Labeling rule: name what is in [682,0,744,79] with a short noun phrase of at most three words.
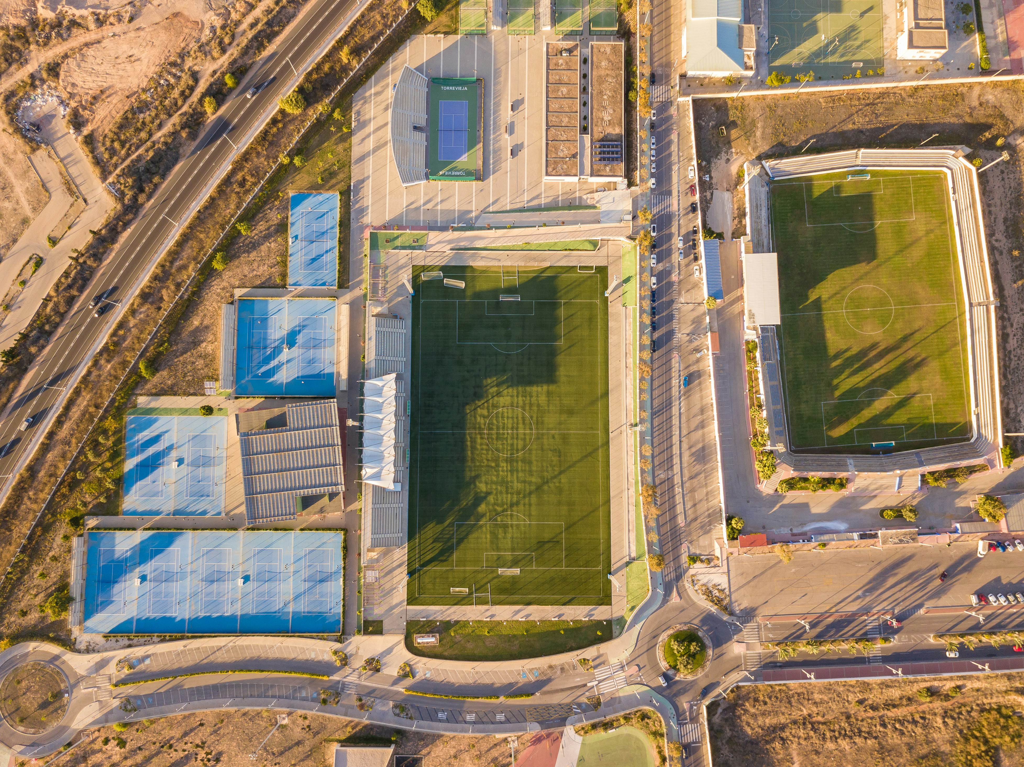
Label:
building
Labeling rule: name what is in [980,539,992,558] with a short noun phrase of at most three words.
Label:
vehicle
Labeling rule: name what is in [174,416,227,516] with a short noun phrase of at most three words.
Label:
tennis court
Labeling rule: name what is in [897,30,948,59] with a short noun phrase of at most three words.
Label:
building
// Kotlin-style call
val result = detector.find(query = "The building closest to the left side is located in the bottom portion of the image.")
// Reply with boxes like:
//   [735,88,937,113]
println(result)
[236,399,349,526]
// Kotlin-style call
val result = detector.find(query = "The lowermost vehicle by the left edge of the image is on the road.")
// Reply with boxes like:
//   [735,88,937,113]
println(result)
[18,418,31,431]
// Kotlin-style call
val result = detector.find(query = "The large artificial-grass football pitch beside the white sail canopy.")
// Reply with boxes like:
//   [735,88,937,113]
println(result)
[407,265,612,605]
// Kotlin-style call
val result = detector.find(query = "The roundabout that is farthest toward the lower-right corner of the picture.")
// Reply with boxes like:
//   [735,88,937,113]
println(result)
[632,597,738,707]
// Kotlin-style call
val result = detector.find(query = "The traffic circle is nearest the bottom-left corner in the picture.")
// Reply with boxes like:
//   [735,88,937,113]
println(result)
[0,651,86,748]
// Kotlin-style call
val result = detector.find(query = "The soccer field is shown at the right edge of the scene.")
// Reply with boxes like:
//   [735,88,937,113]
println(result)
[770,169,973,454]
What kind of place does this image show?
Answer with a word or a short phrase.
sports ground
